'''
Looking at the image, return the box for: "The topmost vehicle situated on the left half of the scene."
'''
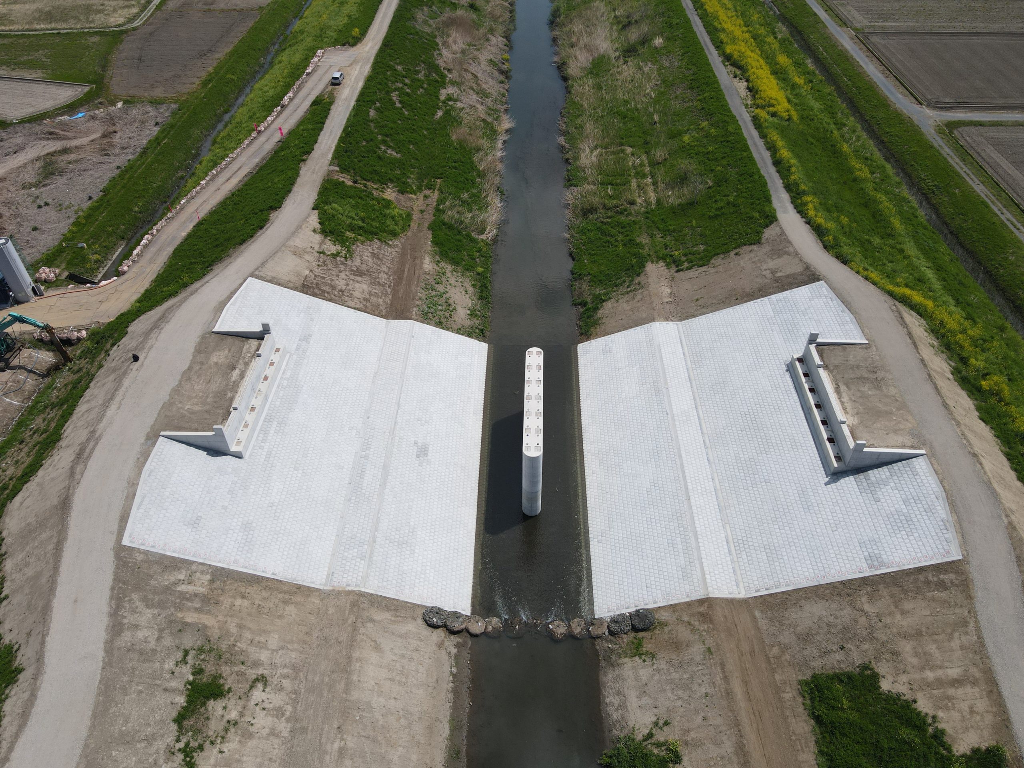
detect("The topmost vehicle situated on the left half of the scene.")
[330,71,344,84]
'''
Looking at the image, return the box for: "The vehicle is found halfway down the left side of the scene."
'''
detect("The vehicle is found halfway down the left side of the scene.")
[0,308,75,369]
